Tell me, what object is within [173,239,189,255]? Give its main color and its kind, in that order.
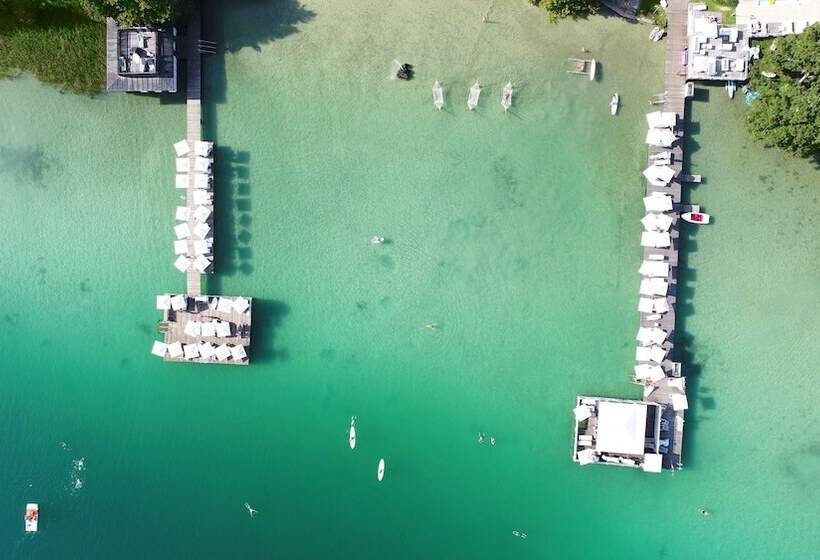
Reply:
white umbrella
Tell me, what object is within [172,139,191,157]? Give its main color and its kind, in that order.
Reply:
white umbrella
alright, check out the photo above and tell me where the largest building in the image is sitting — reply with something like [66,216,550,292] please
[107,16,187,101]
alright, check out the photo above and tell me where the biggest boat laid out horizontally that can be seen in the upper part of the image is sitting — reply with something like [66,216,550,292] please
[681,212,712,224]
